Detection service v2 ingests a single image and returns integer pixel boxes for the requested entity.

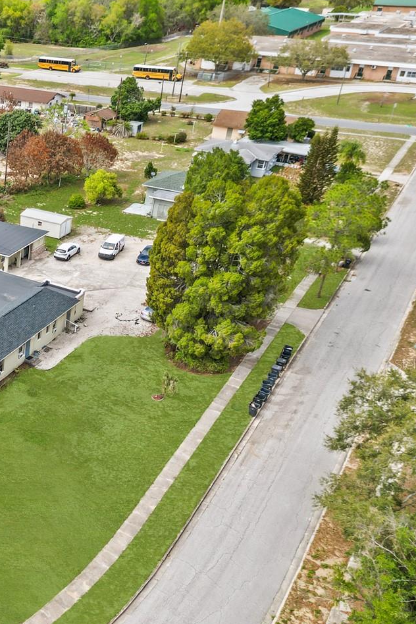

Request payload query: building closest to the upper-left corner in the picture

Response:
[0,80,69,109]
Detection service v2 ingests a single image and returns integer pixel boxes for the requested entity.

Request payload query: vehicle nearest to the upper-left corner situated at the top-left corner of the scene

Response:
[39,57,78,73]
